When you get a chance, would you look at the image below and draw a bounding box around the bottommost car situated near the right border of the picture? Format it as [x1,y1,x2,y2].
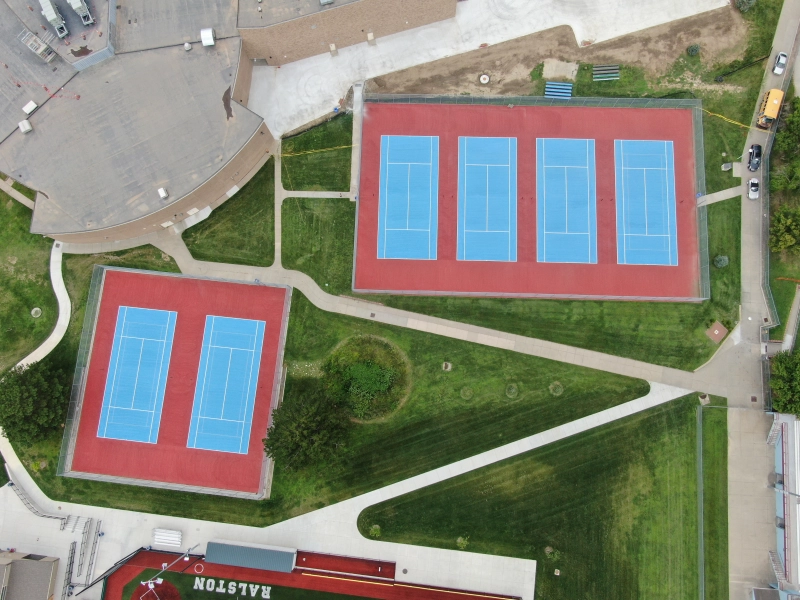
[745,177,760,201]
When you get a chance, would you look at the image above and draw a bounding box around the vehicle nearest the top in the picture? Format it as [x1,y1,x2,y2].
[770,52,788,77]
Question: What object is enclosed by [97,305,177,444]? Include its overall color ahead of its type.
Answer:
blue tennis court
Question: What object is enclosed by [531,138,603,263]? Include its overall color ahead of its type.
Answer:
blue tennis court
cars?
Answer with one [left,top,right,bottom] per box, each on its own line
[745,177,760,201]
[770,52,788,77]
[745,145,762,172]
